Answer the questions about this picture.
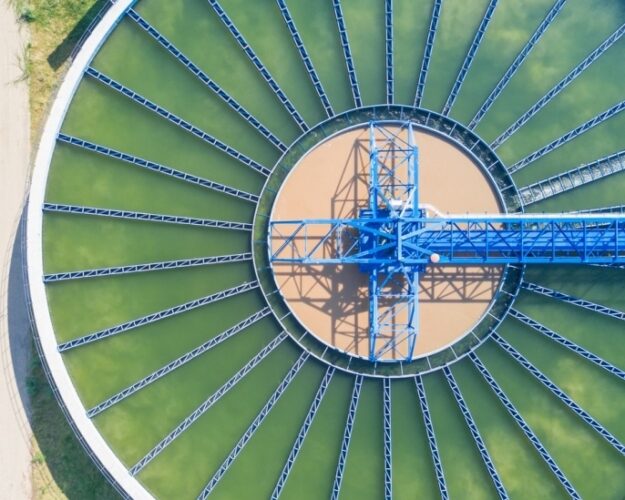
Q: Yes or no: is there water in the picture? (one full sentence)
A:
Yes, there's water in this view.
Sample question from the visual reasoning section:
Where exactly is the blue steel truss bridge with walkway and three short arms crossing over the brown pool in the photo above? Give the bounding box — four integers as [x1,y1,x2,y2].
[267,118,625,364]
